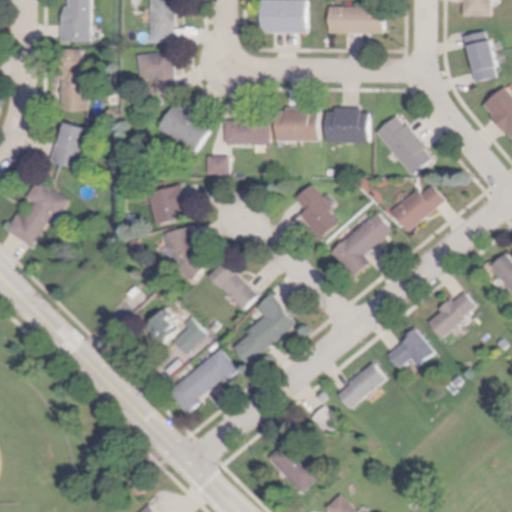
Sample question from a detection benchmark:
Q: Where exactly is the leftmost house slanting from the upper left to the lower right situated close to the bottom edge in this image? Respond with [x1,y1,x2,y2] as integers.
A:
[270,449,316,493]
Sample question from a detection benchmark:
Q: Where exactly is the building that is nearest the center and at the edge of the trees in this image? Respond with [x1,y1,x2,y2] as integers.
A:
[210,264,256,310]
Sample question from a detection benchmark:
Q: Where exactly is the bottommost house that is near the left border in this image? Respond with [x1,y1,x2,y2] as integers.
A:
[10,184,70,250]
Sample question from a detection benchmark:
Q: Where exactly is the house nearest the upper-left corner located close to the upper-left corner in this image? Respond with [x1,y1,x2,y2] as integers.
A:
[62,0,93,43]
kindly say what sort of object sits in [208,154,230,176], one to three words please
building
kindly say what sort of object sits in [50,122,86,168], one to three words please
house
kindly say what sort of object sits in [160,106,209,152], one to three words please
house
